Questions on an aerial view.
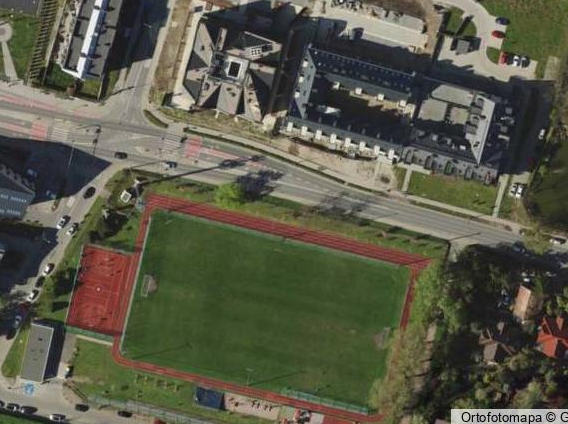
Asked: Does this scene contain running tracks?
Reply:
Yes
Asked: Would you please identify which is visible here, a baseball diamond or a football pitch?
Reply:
football pitch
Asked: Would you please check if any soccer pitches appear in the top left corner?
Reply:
No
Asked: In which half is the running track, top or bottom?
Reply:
bottom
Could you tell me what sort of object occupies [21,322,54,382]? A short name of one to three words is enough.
building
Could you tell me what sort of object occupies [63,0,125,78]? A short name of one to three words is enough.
building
